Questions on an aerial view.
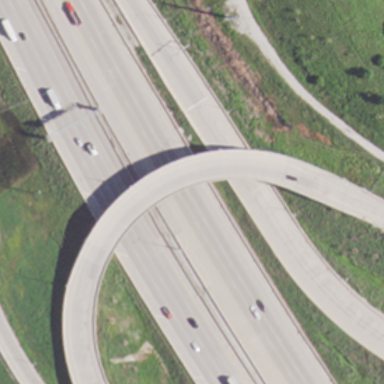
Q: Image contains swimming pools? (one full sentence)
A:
No, no swimming pool is visible in the scene.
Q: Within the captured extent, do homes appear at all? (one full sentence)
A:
No, there isn't any home down there.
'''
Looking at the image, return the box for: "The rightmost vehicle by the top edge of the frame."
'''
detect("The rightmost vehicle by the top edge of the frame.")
[66,2,81,25]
